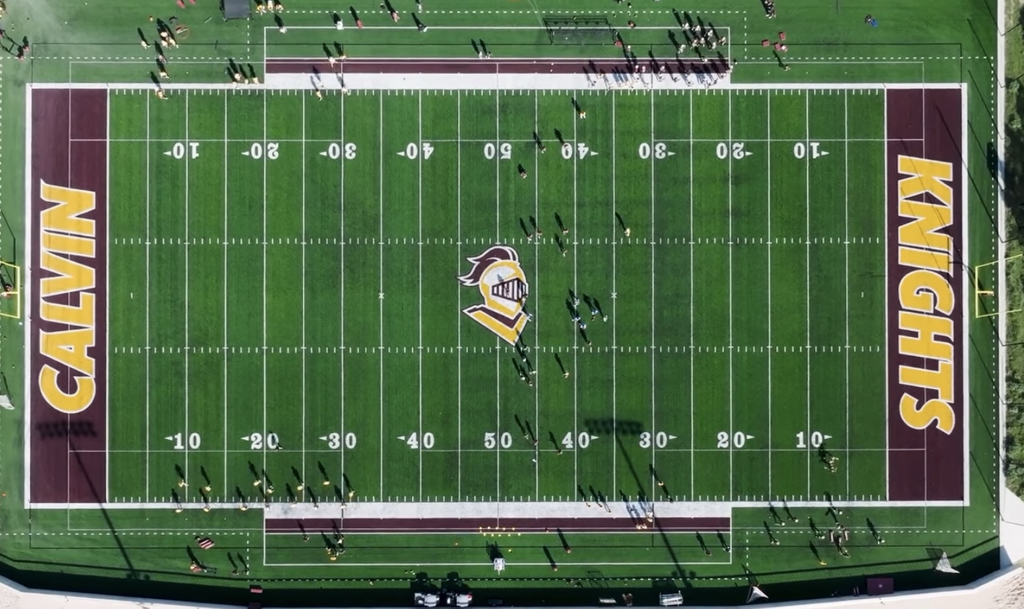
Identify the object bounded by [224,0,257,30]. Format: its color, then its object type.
gray tent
